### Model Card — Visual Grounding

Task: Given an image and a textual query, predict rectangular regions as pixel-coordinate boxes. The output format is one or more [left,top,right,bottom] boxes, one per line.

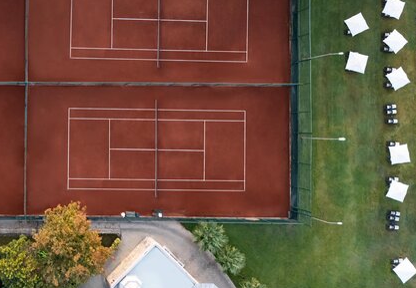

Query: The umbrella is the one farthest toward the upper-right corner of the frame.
[379,0,404,18]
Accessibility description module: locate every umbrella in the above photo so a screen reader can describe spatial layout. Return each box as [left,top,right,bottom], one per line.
[383,180,409,202]
[344,52,368,73]
[343,12,368,36]
[383,66,410,91]
[381,29,407,54]
[385,144,410,165]
[391,258,416,283]
[379,0,404,18]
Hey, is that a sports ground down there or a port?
sports ground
